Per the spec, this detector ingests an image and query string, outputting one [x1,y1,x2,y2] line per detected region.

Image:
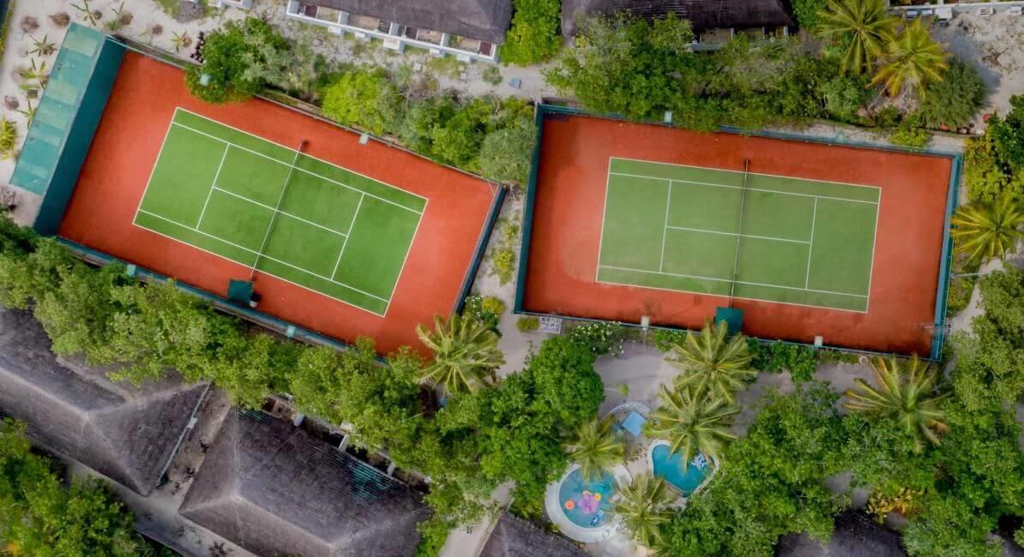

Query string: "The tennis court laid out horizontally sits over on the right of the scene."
[524,114,951,355]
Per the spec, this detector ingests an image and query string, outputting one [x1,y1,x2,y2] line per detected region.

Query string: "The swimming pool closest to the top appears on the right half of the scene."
[649,439,717,500]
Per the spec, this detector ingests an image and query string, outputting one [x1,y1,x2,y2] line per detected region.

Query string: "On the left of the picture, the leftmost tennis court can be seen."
[58,49,496,376]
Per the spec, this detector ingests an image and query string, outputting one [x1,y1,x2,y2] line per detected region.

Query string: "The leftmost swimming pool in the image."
[545,461,625,543]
